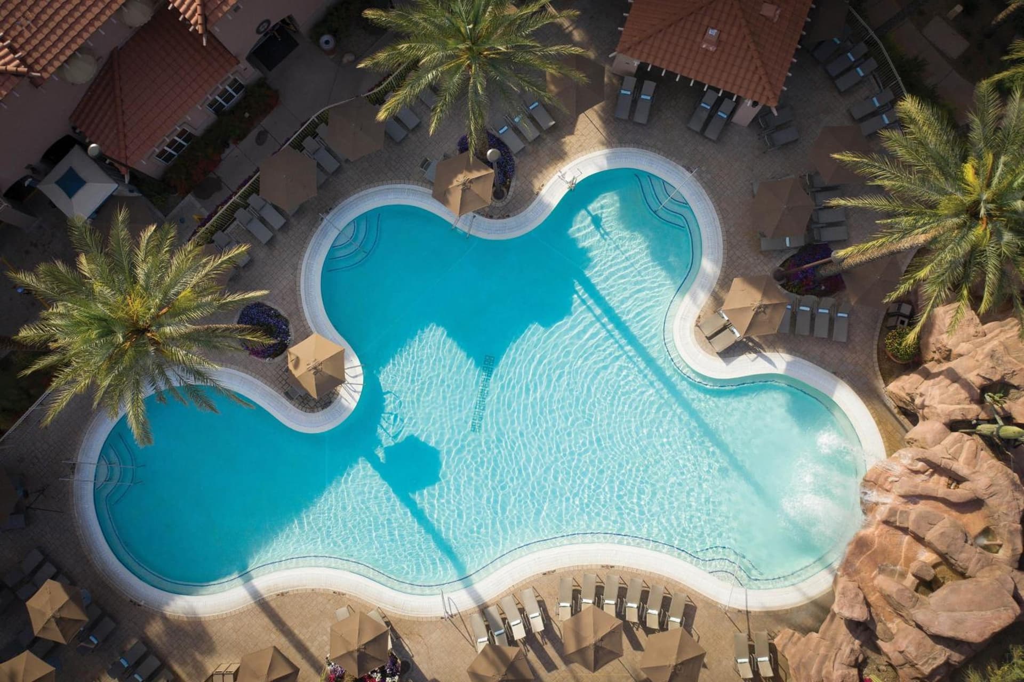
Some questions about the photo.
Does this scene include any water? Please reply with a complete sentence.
Yes, there is water in the image.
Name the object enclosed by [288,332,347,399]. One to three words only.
umbrella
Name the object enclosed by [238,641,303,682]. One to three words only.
umbrella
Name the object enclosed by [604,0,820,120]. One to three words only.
building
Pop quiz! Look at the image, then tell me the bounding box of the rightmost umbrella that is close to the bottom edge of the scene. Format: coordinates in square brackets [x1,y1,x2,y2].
[637,624,707,682]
